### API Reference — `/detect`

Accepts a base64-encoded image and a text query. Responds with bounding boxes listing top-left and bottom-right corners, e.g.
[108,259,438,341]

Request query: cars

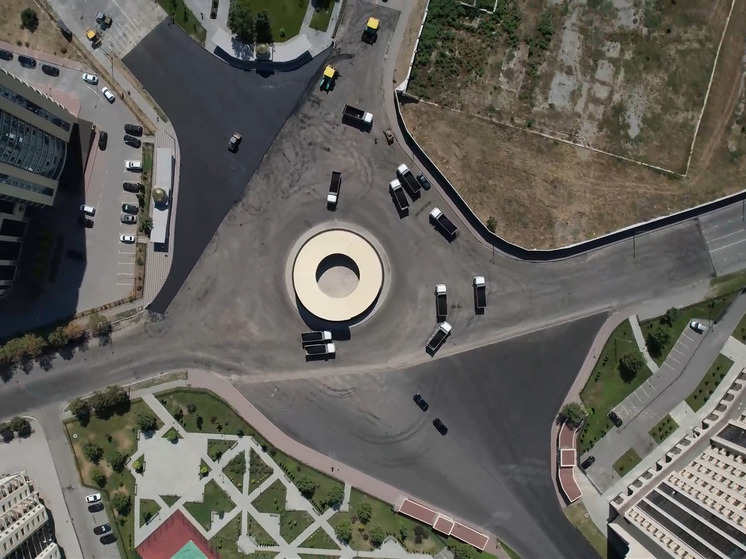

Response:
[79,218,95,226]
[126,161,143,169]
[42,66,60,76]
[68,250,85,258]
[122,204,139,212]
[608,411,622,426]
[0,50,15,60]
[581,455,596,469]
[690,321,707,332]
[102,87,116,103]
[124,136,141,146]
[121,215,138,223]
[125,125,142,134]
[120,235,136,242]
[433,418,447,434]
[414,394,427,409]
[123,183,141,191]
[95,523,111,533]
[100,533,118,544]
[417,174,429,190]
[82,74,100,84]
[19,57,36,67]
[85,493,102,502]
[87,502,106,512]
[98,131,108,149]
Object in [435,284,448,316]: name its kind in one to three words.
vehicle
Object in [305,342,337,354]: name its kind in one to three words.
vehicle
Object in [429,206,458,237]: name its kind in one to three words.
truck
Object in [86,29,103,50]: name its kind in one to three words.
work vehicle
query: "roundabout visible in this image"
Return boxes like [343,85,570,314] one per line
[285,223,391,329]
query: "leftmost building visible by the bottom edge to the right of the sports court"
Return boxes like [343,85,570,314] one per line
[399,496,489,550]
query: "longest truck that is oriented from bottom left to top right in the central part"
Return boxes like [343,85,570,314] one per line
[426,320,450,350]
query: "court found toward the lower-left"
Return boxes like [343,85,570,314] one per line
[130,509,224,559]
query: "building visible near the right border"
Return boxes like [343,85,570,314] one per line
[603,363,746,559]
